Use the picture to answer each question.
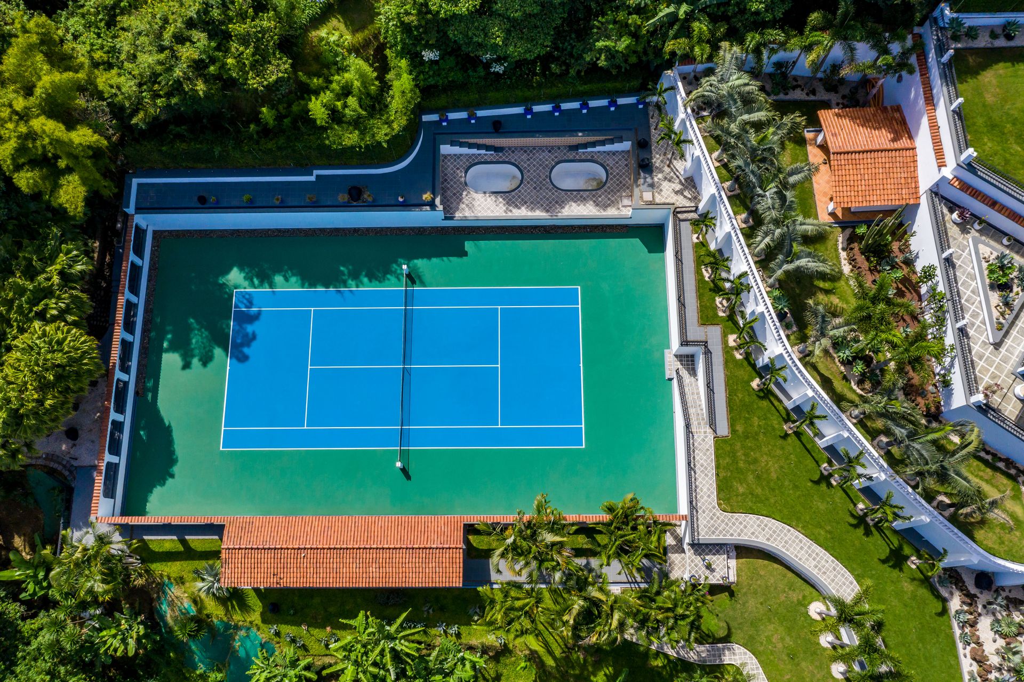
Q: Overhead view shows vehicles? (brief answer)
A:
No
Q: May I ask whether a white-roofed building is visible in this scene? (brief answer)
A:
No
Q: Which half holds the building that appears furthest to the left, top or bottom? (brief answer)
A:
bottom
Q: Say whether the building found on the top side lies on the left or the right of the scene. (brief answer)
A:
right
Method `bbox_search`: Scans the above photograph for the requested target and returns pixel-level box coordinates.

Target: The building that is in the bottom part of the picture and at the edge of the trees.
[216,515,466,589]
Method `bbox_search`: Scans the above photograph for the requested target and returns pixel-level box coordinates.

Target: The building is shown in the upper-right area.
[803,104,923,223]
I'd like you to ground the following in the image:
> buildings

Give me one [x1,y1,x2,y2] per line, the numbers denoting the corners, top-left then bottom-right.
[216,515,466,589]
[803,104,923,223]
